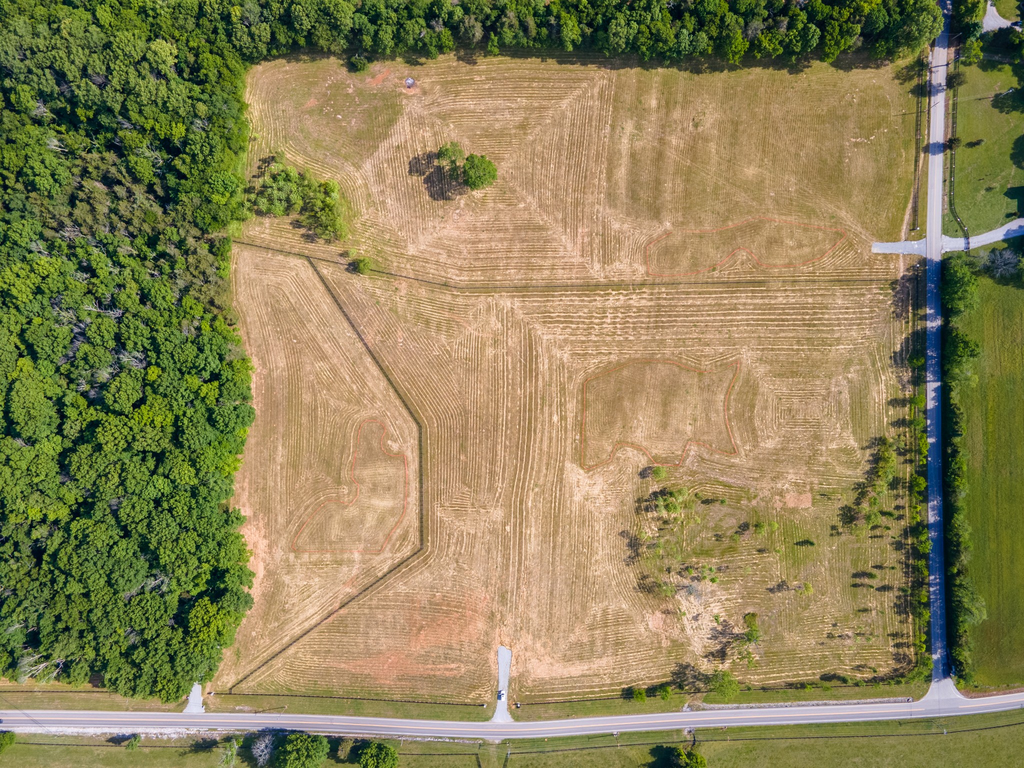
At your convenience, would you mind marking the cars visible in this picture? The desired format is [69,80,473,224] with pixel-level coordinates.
[499,691,506,702]
[1014,20,1024,26]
